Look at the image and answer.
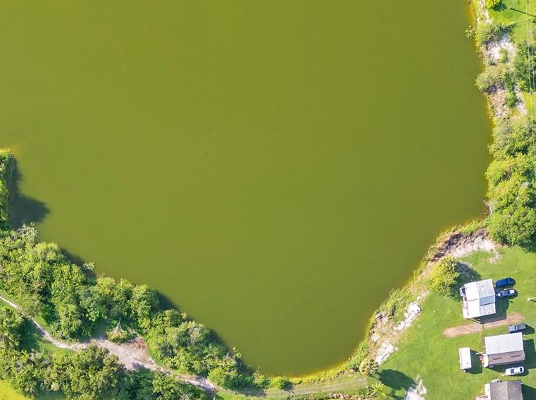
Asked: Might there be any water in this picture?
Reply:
Yes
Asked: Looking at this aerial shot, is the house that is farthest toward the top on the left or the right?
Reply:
right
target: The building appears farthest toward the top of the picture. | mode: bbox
[453,280,497,318]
